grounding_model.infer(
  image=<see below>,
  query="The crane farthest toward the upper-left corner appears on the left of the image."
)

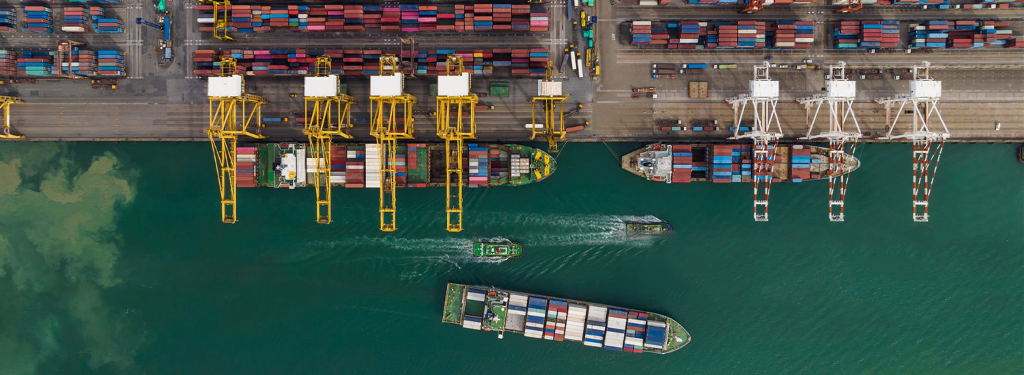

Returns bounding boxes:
[57,35,92,79]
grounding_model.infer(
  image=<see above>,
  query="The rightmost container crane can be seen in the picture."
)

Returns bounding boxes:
[873,61,946,222]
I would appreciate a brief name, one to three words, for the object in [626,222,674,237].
boat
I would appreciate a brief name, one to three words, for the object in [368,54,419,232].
container crane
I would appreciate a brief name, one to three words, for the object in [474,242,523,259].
boat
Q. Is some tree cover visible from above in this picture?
No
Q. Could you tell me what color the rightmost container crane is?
white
